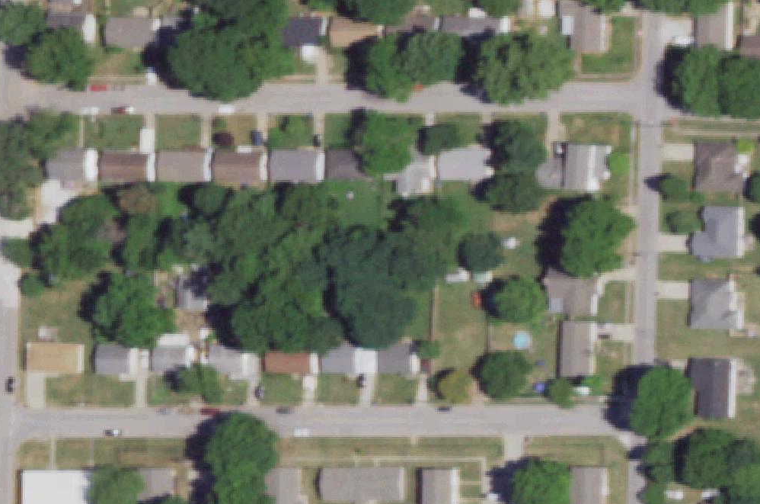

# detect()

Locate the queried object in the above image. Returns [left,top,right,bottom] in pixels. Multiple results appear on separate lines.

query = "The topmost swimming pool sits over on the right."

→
[511,331,532,349]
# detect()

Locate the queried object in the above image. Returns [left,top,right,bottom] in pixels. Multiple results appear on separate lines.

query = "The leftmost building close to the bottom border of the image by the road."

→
[19,471,94,504]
